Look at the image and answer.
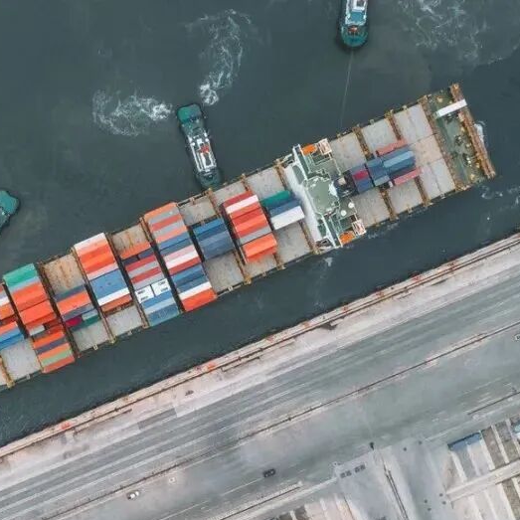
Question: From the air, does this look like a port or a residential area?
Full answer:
What you see here is a port.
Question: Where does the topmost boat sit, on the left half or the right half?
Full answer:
It is on the right.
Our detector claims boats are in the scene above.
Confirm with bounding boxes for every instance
[339,0,372,46]
[179,104,220,186]
[302,142,319,154]
[340,229,356,241]
[0,191,21,237]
